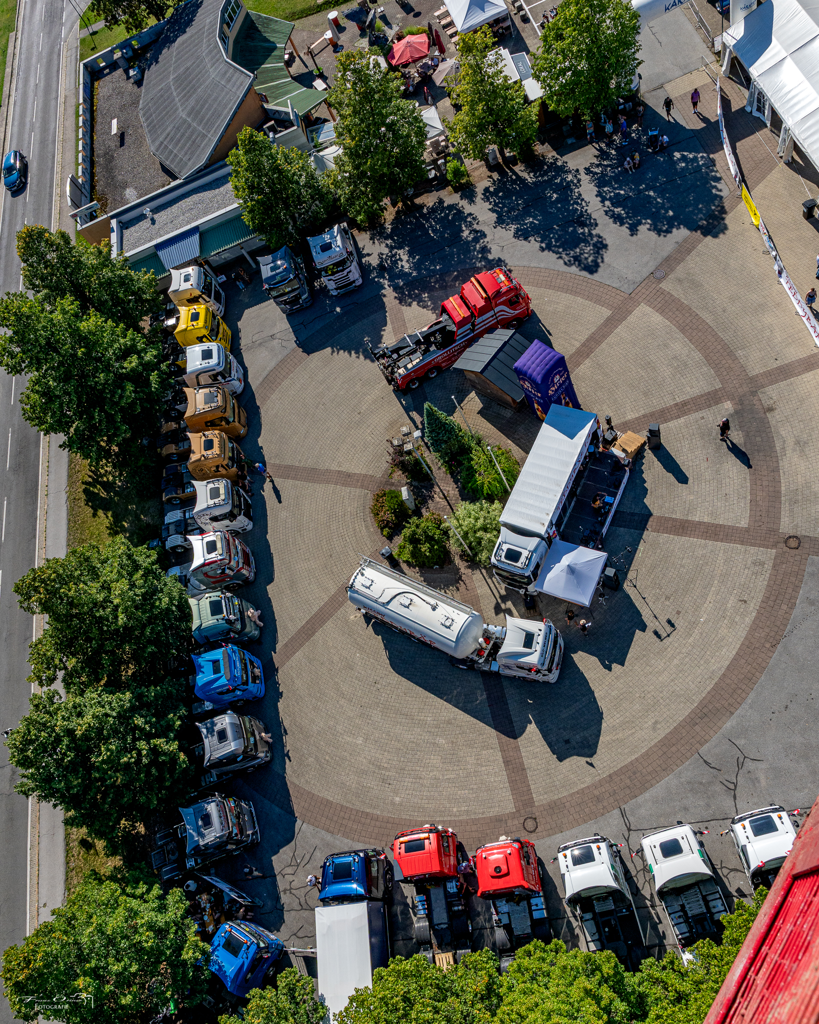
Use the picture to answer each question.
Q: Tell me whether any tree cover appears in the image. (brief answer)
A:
Yes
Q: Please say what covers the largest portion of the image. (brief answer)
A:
paved ground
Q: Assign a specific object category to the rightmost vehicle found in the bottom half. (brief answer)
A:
truck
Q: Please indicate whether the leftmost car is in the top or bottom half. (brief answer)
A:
top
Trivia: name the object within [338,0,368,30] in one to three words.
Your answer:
umbrella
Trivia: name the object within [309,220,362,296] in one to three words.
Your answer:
truck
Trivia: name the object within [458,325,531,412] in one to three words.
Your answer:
shed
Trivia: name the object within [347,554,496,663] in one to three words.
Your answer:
trailer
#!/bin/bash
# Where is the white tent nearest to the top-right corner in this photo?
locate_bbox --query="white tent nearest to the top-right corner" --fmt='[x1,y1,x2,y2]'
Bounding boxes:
[688,0,819,184]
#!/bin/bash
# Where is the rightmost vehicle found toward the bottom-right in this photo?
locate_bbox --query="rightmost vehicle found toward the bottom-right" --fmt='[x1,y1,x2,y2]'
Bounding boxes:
[715,791,800,899]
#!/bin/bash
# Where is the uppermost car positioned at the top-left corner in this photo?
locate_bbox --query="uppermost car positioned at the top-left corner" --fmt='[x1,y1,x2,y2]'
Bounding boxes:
[0,152,30,194]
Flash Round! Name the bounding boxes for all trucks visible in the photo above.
[168,471,260,551]
[384,818,480,984]
[626,810,734,978]
[316,842,399,1024]
[169,702,275,800]
[168,580,265,668]
[154,301,236,373]
[151,785,262,882]
[164,337,248,414]
[148,263,227,336]
[480,404,601,604]
[166,638,268,725]
[164,425,253,502]
[259,240,313,317]
[463,830,561,982]
[309,220,362,296]
[187,903,294,1024]
[544,825,648,983]
[165,380,251,457]
[715,791,800,899]
[446,616,566,687]
[356,263,533,398]
[167,523,259,607]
